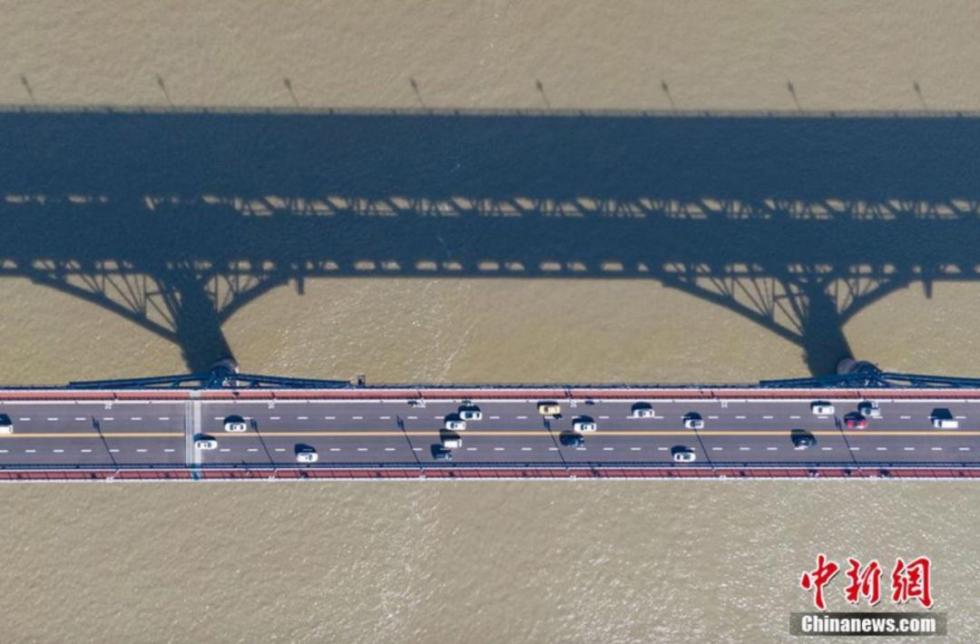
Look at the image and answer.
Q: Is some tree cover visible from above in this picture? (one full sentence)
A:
No, tree cover can't be seen anywhere here.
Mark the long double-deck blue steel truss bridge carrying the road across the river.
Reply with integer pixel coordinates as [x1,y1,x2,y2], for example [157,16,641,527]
[0,357,980,481]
